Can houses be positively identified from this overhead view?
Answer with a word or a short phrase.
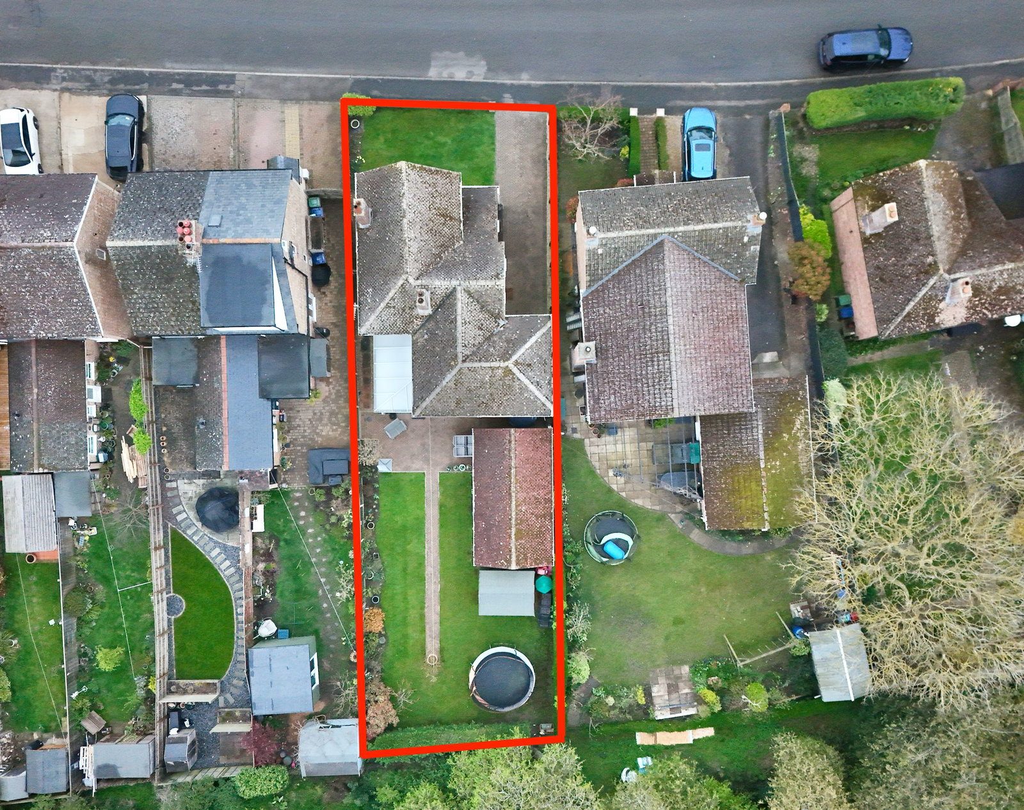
Yes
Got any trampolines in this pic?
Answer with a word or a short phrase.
Yes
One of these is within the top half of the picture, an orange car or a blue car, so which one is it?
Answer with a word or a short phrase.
blue car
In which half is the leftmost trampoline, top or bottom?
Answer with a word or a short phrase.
bottom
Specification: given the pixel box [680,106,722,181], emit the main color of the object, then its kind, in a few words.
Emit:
blue car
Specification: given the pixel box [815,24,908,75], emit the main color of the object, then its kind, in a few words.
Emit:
blue car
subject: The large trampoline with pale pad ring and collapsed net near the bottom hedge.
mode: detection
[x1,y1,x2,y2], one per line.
[468,646,533,711]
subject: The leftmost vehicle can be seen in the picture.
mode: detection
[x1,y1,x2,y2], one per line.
[0,107,44,172]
